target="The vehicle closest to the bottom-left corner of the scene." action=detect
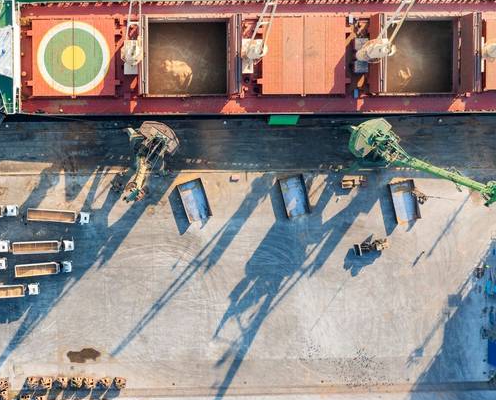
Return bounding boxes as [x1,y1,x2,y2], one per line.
[0,281,41,298]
